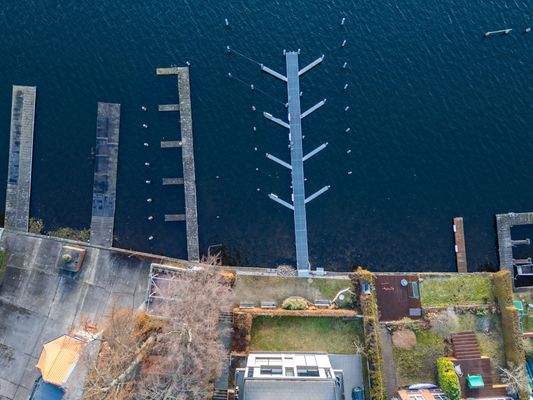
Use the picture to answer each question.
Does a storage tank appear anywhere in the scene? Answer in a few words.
No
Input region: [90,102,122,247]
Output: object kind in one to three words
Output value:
pier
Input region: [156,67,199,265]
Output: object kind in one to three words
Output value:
pier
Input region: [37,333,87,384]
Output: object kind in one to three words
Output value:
house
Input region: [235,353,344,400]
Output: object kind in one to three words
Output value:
house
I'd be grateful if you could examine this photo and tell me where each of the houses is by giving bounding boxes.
[395,382,448,400]
[235,353,344,400]
[37,333,87,384]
